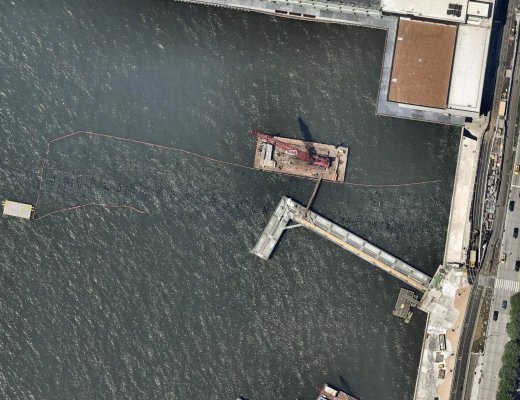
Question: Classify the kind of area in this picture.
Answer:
port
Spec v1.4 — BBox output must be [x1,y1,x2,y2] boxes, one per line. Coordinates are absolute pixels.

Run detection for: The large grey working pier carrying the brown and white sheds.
[169,0,481,127]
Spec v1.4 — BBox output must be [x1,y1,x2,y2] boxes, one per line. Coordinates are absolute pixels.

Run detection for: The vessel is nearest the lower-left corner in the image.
[2,200,35,219]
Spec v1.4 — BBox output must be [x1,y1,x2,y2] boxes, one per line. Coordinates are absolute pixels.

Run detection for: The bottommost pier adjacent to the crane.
[254,196,432,292]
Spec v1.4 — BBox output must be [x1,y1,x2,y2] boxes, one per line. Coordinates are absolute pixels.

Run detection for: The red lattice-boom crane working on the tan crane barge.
[250,129,335,170]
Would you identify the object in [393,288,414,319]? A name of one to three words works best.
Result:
pier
